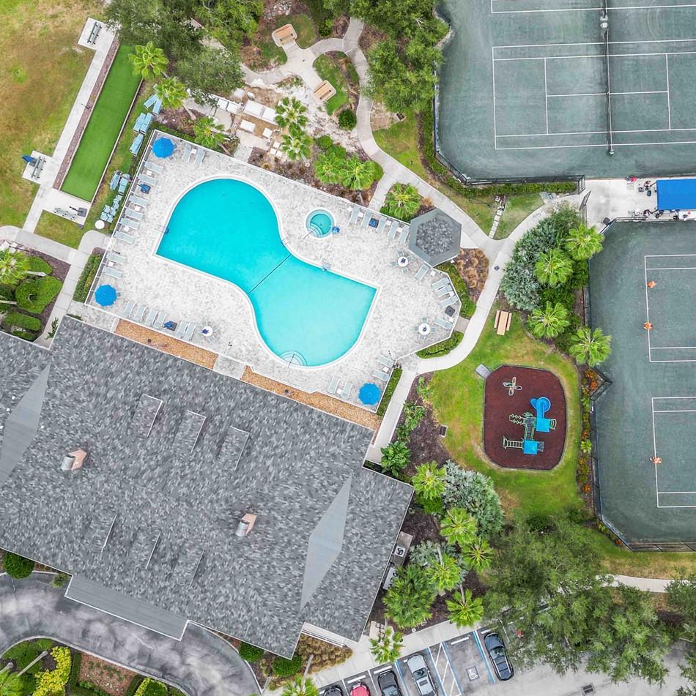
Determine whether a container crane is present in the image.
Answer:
No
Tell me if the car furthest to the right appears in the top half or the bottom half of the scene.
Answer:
bottom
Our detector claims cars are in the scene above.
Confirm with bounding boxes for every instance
[349,681,371,696]
[322,685,341,696]
[483,630,516,685]
[377,667,404,696]
[406,652,438,696]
